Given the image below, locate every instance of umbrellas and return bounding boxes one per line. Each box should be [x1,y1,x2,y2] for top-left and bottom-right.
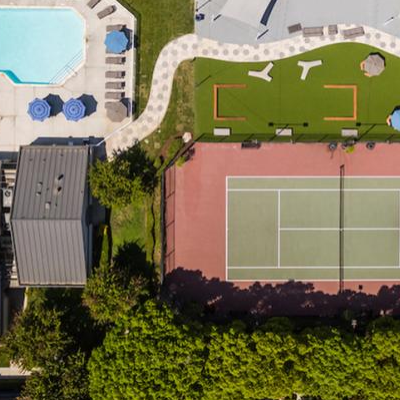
[389,107,400,130]
[64,99,86,121]
[106,31,128,54]
[363,54,385,76]
[106,101,128,122]
[29,100,50,120]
